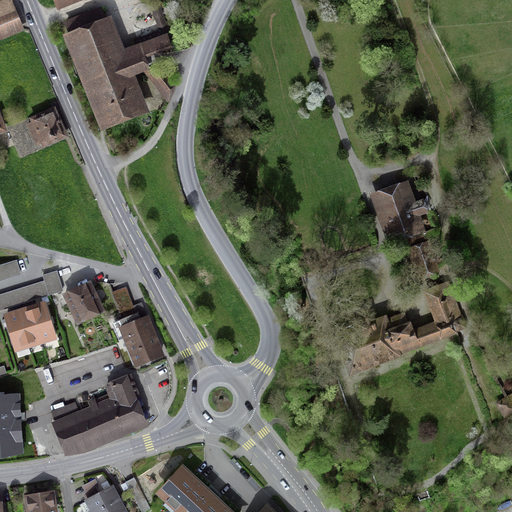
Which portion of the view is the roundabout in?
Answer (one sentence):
The roundabout appears toward the bottom of the photo.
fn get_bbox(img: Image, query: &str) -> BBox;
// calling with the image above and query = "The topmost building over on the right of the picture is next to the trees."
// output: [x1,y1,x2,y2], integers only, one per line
[370,180,431,240]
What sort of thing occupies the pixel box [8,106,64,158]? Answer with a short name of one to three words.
house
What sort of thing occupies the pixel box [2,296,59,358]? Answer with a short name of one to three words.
house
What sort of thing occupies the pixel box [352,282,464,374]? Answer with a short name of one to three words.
building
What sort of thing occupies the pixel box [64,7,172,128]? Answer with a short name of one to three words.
barn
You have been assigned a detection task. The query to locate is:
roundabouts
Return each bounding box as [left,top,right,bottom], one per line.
[184,362,258,436]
